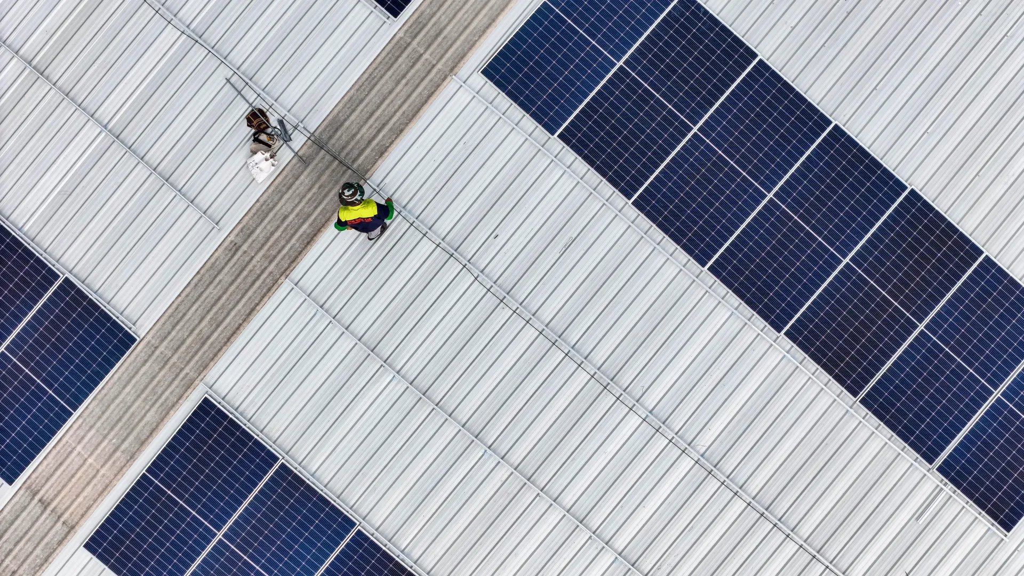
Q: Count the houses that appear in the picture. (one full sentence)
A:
There are no houses in this view.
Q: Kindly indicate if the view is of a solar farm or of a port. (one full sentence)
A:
The picture captures a solar farm.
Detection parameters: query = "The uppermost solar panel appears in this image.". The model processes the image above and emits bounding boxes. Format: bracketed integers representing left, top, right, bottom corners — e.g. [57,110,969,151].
[370,0,413,22]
